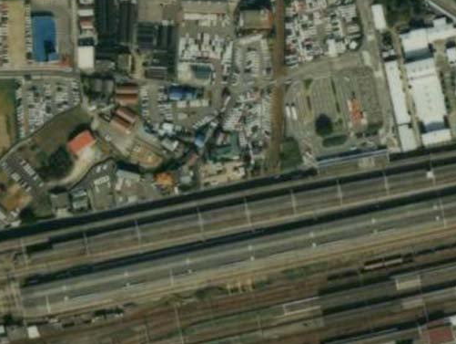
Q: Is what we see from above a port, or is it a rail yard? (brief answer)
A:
rail yard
